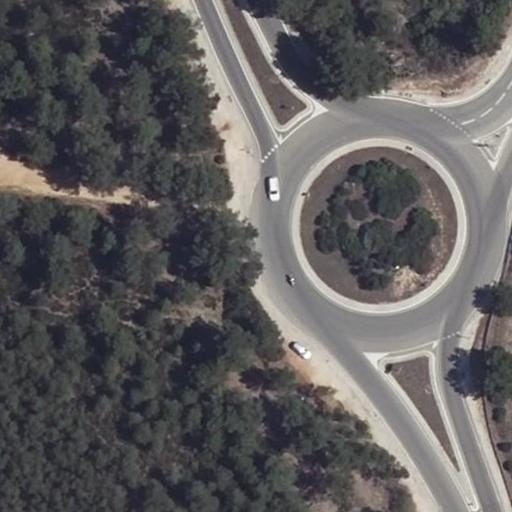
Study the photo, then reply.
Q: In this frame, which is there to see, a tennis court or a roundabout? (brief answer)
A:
roundabout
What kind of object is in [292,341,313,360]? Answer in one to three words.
car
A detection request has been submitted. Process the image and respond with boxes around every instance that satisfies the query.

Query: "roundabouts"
[252,98,506,352]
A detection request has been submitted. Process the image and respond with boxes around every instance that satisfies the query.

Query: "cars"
[292,341,313,360]
[269,177,280,202]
